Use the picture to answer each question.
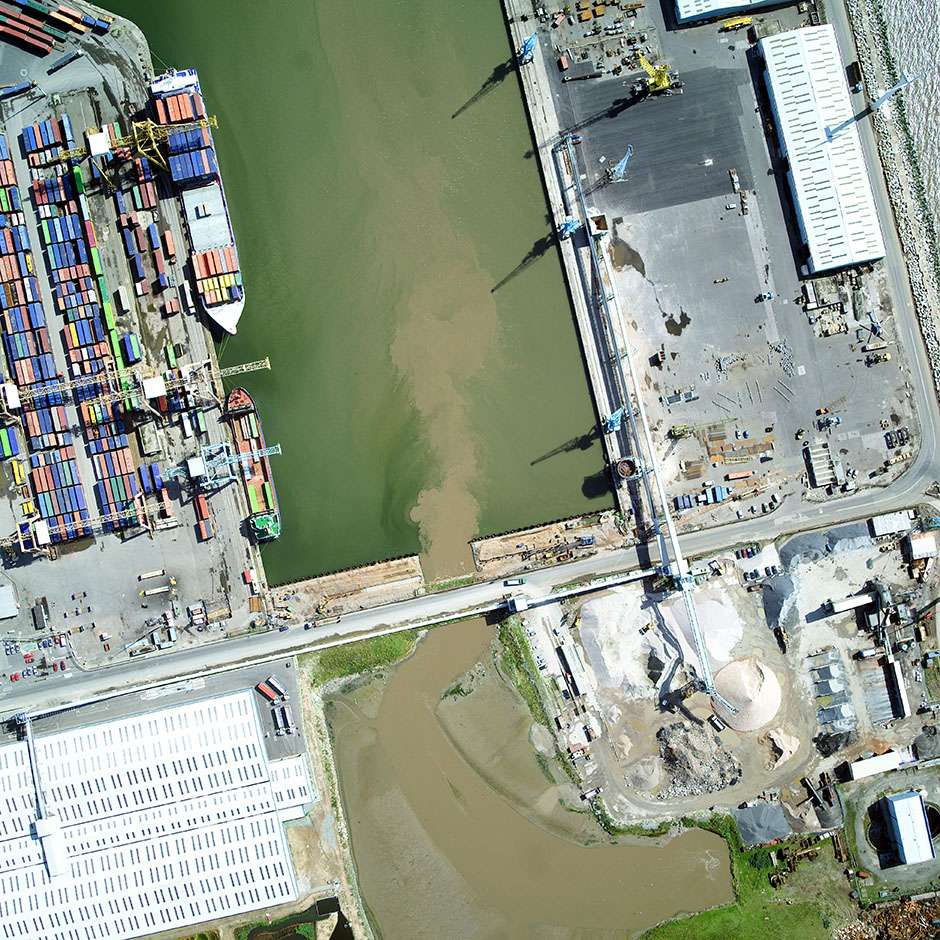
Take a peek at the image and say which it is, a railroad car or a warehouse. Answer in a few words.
warehouse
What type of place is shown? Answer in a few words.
port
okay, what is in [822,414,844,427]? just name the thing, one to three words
vehicle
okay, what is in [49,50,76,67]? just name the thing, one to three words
vehicle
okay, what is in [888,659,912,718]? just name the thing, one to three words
shed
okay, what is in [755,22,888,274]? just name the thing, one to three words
warehouse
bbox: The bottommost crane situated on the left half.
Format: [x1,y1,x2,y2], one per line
[0,492,169,562]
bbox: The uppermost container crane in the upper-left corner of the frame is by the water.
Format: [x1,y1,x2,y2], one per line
[57,115,218,199]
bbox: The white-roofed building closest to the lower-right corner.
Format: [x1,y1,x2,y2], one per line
[883,786,935,866]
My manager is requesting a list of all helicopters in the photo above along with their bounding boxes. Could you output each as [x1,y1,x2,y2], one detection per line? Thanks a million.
[870,311,893,340]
